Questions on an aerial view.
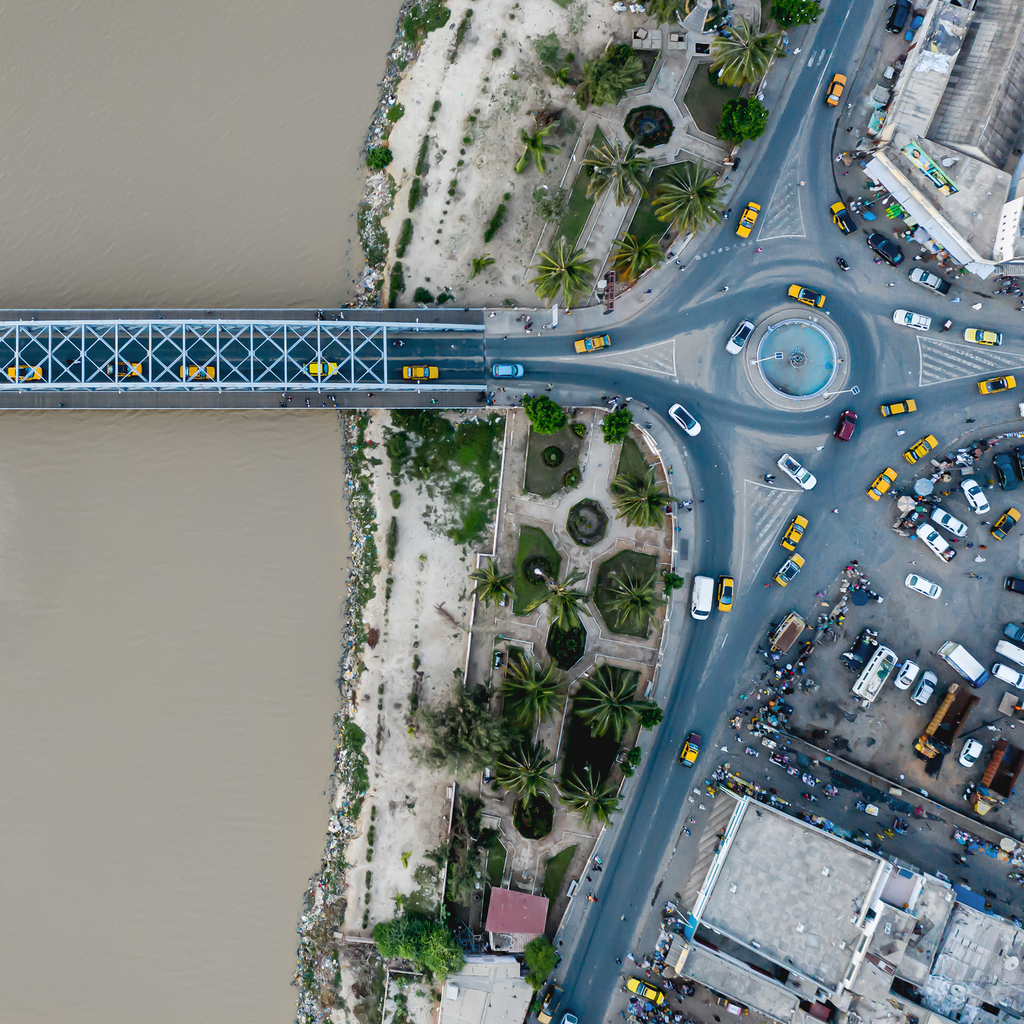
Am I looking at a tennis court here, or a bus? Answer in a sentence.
This aerial view contains a bus.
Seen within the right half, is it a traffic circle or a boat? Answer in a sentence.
It is a traffic circle that can be seen within the right half.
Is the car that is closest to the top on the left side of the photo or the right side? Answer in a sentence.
The car that is closest to the top appears in the right half of the scene.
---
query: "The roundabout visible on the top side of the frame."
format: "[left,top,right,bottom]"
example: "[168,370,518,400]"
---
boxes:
[747,307,850,410]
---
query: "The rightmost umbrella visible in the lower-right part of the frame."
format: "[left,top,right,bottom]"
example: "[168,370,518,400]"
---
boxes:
[999,836,1016,852]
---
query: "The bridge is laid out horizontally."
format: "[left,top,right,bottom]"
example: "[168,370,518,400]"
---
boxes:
[0,307,486,410]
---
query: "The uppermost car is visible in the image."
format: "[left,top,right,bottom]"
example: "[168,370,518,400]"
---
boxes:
[886,0,916,37]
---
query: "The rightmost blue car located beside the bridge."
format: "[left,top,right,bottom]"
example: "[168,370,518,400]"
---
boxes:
[491,362,524,378]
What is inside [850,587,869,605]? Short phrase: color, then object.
blue umbrella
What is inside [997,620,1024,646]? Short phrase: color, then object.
blue car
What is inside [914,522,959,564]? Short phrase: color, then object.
white truck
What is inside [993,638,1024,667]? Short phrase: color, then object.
white van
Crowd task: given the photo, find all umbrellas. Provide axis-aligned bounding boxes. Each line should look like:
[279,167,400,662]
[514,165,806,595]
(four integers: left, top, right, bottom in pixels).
[999,836,1016,852]
[850,587,869,605]
[779,701,795,717]
[662,966,677,980]
[897,495,916,513]
[914,477,933,497]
